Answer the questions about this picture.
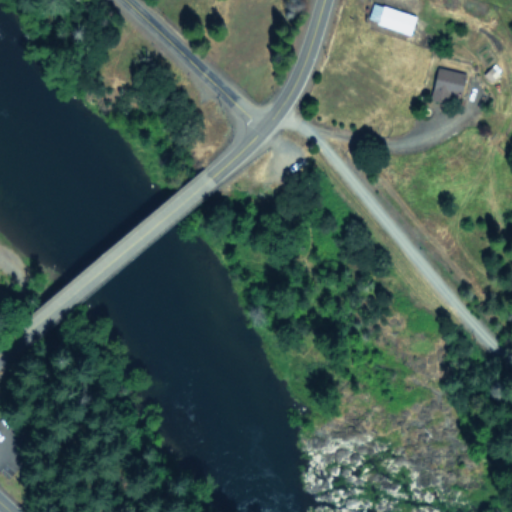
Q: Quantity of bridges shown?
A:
1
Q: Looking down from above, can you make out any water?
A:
Yes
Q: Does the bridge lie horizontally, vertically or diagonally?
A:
diagonally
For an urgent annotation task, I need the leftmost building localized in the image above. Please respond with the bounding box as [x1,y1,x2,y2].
[370,2,418,36]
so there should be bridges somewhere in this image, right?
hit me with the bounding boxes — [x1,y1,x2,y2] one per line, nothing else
[28,171,218,336]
